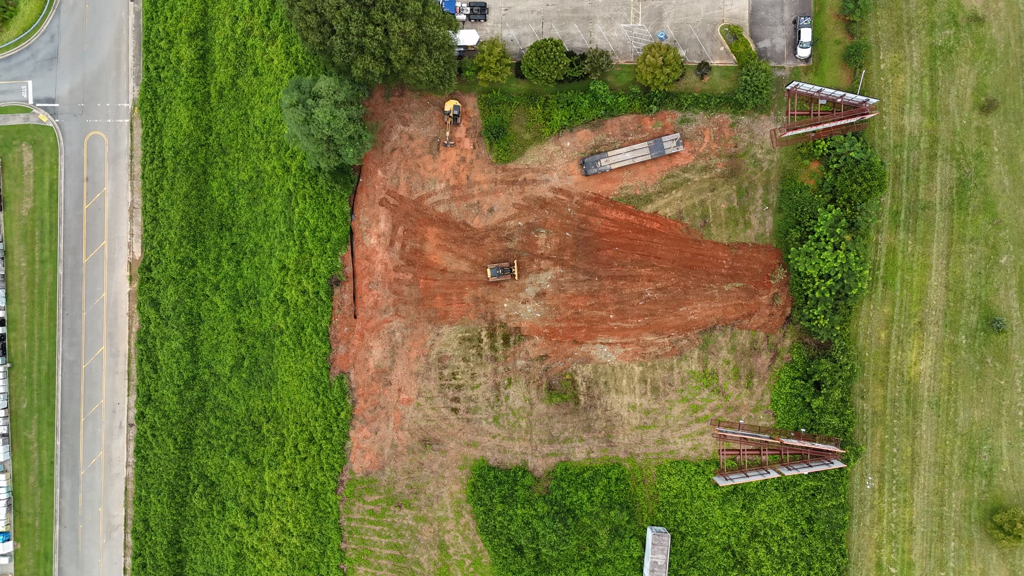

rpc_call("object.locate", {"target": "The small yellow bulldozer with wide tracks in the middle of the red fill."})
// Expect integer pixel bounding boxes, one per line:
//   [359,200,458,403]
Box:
[487,260,518,282]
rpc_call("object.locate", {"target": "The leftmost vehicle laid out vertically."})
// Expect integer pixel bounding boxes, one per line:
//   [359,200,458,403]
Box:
[445,97,462,147]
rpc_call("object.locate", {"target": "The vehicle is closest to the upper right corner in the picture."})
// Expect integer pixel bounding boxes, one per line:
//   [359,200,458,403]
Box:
[793,16,816,60]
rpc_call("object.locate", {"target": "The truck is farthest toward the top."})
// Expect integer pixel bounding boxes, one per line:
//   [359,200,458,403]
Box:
[429,0,489,22]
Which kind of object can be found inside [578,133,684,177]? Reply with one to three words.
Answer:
trailer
